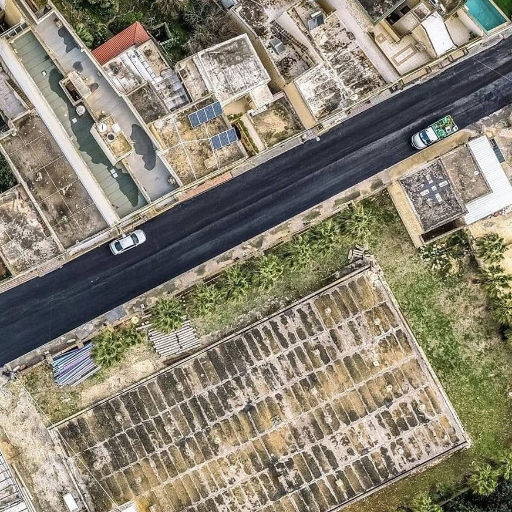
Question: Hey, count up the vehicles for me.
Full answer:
There are 2 vehicles in the image.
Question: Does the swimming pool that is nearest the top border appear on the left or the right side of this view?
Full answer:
The swimming pool that is nearest the top border is on the right side of the image.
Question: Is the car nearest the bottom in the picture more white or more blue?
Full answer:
The color of the car nearest the bottom is white.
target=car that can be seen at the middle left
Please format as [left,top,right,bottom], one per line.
[110,228,146,255]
